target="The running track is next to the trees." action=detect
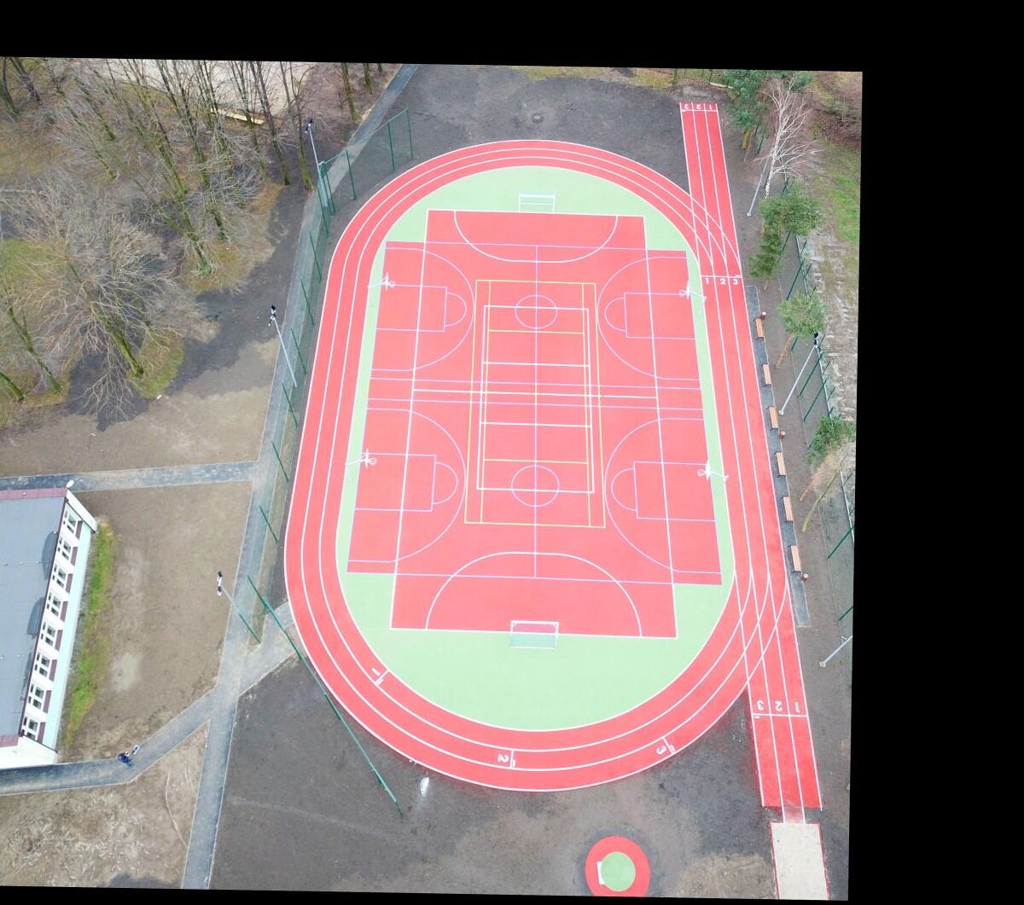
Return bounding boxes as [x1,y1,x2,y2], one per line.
[287,101,822,823]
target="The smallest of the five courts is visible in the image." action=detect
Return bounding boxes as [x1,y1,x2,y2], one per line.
[477,305,594,493]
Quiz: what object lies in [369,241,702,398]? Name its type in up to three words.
basketball court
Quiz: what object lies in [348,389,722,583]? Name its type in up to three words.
basketball court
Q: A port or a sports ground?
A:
sports ground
